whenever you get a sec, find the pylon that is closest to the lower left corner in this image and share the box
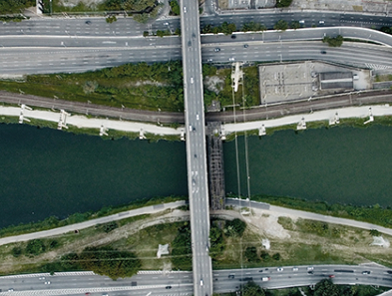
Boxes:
[157,243,170,262]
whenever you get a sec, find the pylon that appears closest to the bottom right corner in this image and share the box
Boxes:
[368,234,392,251]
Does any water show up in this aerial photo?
Yes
